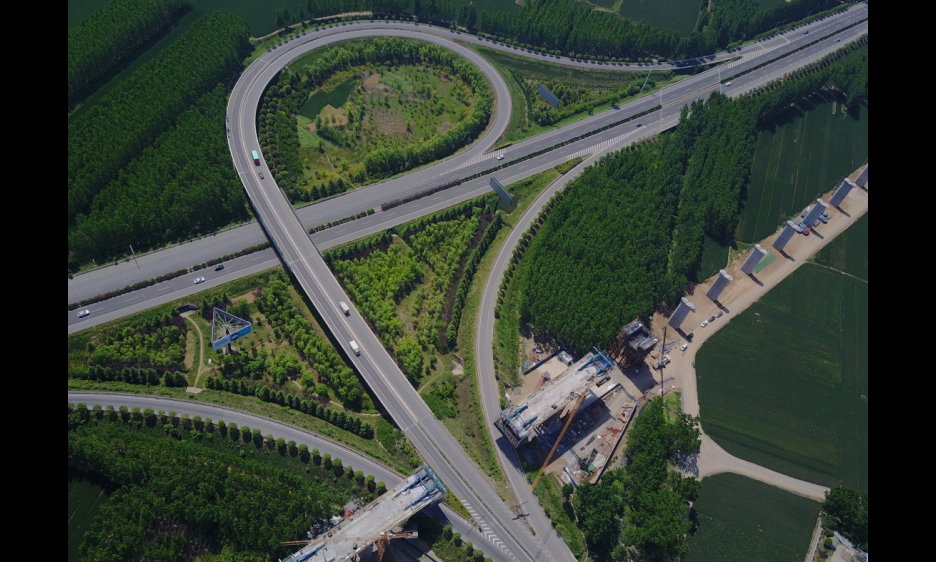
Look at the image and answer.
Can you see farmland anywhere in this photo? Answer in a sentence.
Yes, farmland shows up in the scene.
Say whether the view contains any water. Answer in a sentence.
No, the scene doesn't show any water.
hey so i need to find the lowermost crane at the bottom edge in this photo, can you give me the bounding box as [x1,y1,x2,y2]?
[231,531,418,562]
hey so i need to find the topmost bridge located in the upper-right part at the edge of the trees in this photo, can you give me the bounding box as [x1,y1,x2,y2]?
[654,67,744,114]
